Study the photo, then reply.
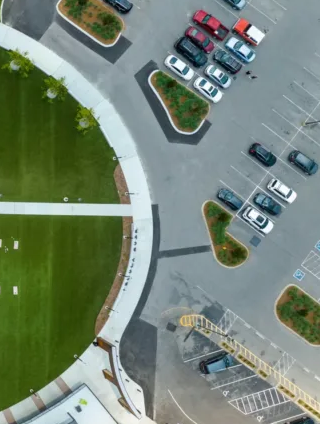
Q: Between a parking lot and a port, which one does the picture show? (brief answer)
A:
parking lot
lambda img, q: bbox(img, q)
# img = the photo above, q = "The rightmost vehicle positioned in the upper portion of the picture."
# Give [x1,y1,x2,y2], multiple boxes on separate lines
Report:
[286,148,319,177]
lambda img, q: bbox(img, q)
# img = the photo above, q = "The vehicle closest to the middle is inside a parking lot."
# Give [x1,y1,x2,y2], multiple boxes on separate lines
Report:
[214,185,248,214]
